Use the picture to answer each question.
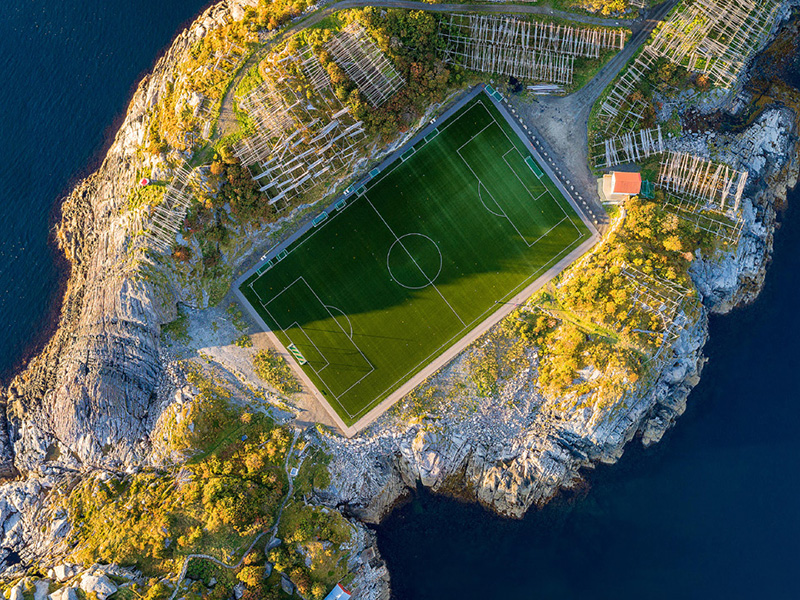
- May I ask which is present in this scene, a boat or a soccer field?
soccer field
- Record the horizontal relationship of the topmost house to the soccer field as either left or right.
to its right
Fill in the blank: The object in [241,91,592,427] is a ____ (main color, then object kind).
green soccer field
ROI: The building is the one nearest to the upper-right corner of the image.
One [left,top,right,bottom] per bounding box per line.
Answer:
[614,172,645,194]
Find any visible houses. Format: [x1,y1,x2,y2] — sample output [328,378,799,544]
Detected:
[614,172,645,194]
[323,584,351,600]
